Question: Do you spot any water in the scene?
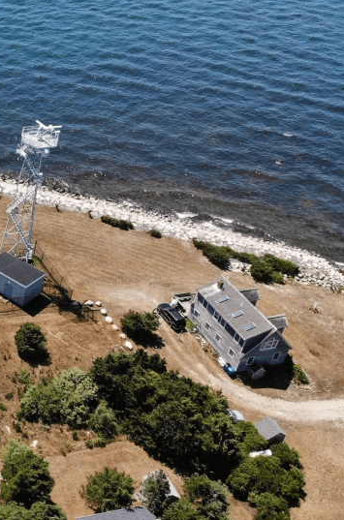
Yes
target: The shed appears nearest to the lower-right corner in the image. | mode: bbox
[251,417,288,447]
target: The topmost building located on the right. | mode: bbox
[188,277,298,379]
